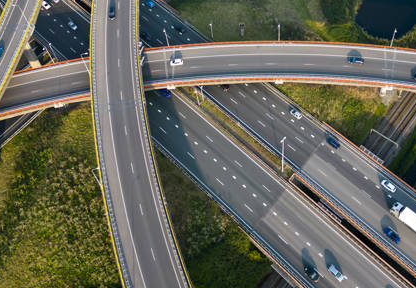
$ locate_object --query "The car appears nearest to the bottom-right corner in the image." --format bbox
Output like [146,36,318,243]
[382,227,400,243]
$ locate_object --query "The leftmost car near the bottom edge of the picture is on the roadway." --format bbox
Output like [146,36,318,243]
[302,265,319,281]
